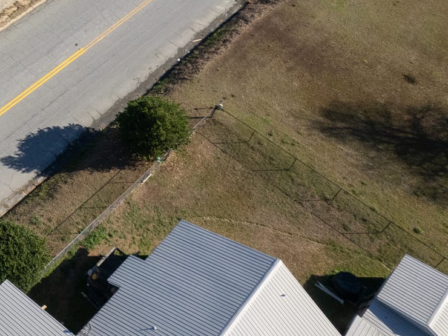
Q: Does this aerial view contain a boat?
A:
No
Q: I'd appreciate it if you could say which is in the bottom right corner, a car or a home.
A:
home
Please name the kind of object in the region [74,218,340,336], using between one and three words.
house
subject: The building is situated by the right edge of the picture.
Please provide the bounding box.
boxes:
[350,253,448,336]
